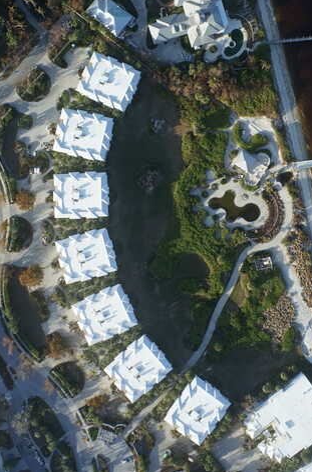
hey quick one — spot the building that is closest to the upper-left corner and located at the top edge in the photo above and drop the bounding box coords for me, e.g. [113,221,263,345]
[88,0,134,38]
